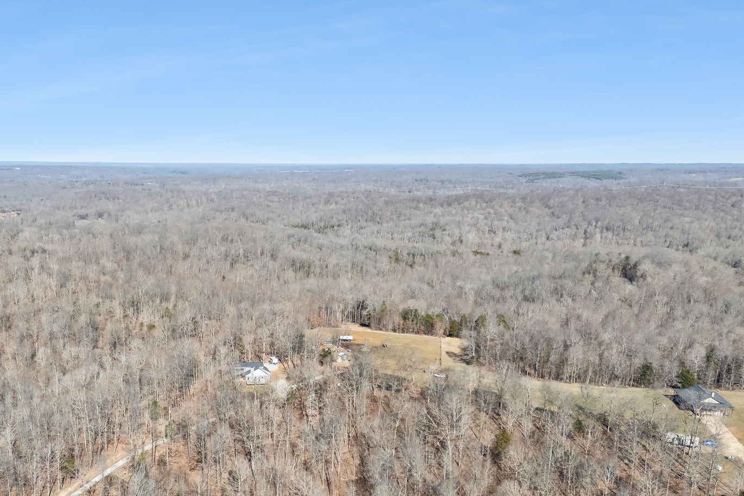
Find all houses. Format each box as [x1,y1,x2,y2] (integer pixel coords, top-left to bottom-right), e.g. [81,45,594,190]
[673,386,736,418]
[227,359,272,386]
